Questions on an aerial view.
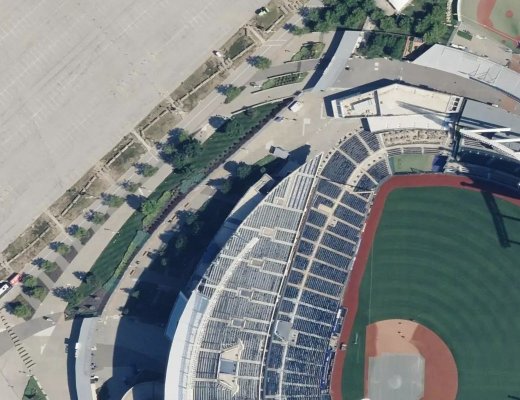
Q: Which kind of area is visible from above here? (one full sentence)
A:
It's a sports ground.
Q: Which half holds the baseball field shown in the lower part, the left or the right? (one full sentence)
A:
You can find the baseball field shown in the lower part on the right side of the picture.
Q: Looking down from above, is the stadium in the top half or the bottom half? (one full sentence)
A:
The stadium sits in the bottom half of the picture.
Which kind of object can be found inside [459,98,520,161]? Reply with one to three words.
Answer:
building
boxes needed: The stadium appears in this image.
[128,128,520,400]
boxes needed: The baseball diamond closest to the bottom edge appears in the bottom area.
[270,132,520,400]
